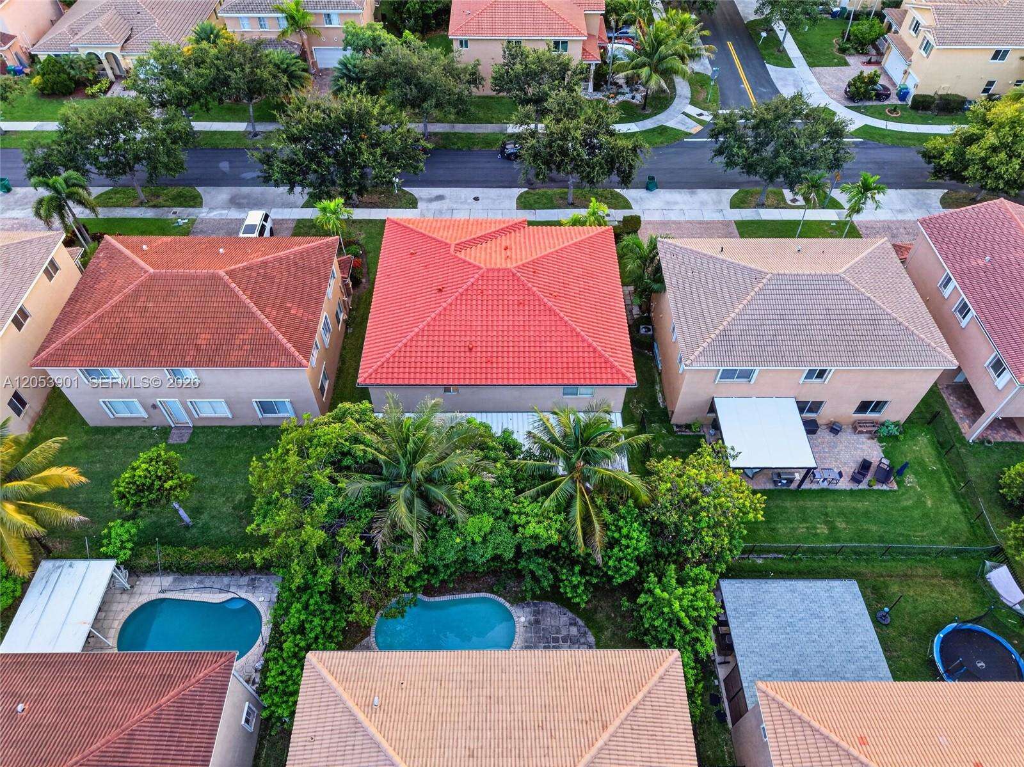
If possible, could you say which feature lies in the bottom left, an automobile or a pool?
pool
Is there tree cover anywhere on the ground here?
Yes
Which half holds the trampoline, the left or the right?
right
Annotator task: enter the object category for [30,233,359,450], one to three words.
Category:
house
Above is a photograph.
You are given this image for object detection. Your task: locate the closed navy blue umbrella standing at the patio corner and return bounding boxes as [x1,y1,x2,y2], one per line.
[884,460,912,490]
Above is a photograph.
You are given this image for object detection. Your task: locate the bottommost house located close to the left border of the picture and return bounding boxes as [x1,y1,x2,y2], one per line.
[0,649,260,767]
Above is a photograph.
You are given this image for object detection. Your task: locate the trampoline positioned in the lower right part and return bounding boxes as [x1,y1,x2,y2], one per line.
[930,607,1024,680]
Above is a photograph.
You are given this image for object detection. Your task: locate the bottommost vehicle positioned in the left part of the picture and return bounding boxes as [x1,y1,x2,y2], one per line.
[240,211,273,235]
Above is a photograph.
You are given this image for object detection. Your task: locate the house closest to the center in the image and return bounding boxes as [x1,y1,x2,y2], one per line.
[355,216,639,416]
